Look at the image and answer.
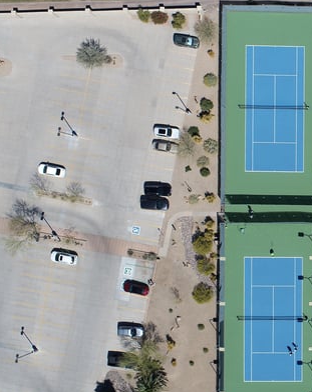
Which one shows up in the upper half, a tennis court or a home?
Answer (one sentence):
It is a tennis court that can be seen in the upper half.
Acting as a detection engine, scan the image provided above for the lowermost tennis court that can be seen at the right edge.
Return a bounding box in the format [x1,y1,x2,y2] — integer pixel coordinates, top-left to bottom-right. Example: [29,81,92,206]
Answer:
[224,223,312,392]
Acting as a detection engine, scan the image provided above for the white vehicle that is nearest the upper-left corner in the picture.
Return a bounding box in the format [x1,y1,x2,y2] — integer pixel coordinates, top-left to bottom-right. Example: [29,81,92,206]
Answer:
[39,163,66,176]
